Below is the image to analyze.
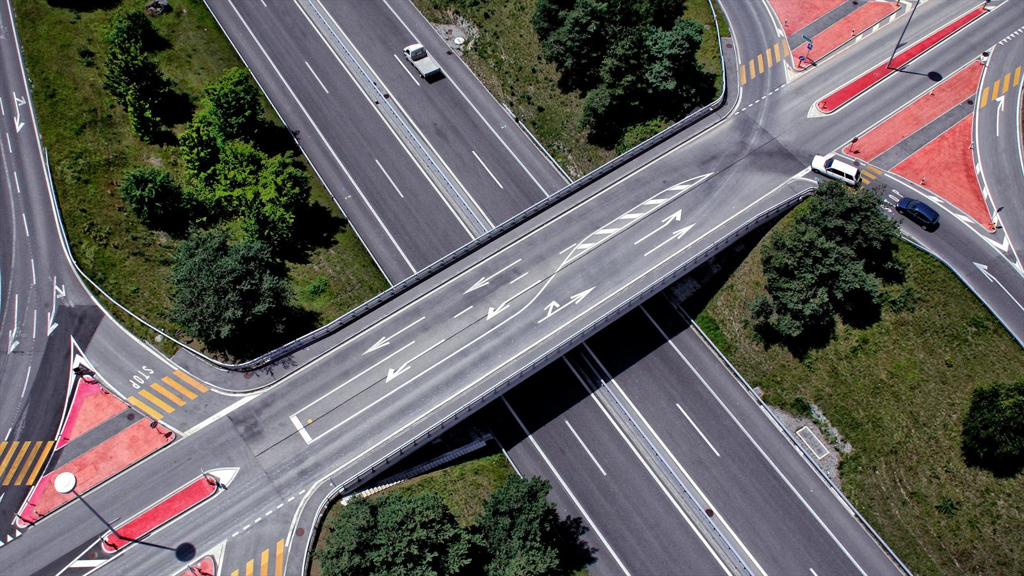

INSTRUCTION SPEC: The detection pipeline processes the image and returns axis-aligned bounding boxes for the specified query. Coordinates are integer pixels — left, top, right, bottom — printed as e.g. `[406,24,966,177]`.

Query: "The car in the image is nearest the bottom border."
[893,198,941,233]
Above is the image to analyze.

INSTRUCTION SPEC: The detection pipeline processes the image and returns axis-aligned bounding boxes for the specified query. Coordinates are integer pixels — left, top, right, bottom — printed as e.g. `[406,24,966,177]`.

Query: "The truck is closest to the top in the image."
[405,46,441,81]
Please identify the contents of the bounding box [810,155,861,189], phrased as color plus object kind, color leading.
white car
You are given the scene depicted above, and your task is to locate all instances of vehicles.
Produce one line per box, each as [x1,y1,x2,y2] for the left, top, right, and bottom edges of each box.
[893,198,941,233]
[405,46,441,81]
[810,155,861,189]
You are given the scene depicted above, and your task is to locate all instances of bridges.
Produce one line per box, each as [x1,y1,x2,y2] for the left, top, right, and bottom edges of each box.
[271,106,807,492]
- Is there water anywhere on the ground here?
No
